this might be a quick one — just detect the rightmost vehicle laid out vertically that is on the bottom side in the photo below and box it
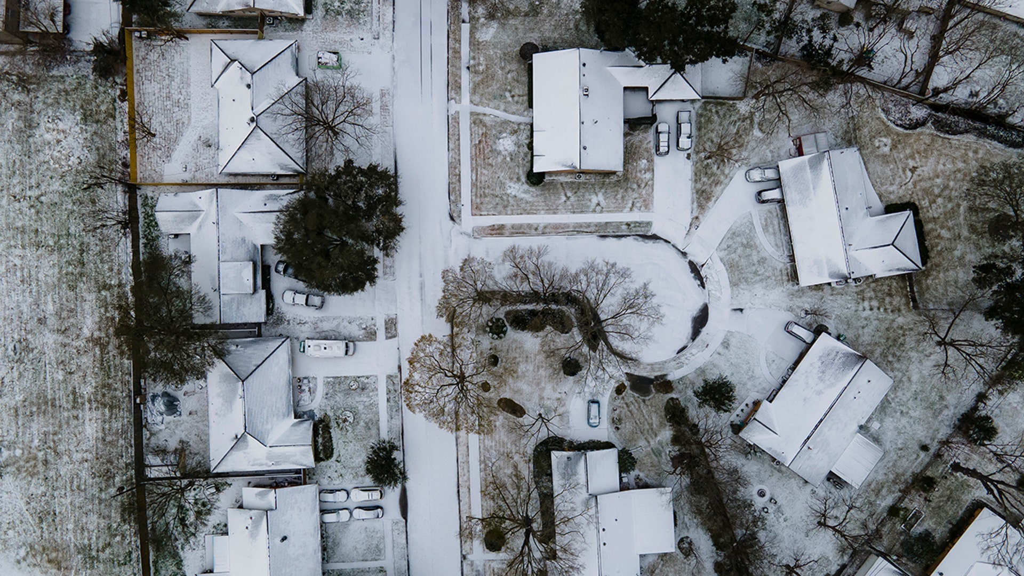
[587,399,602,430]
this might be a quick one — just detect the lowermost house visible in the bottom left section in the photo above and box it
[198,481,325,576]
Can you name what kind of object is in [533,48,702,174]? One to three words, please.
house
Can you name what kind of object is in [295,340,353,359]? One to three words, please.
camper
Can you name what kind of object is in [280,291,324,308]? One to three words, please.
vehicle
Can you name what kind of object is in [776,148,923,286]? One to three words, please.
house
